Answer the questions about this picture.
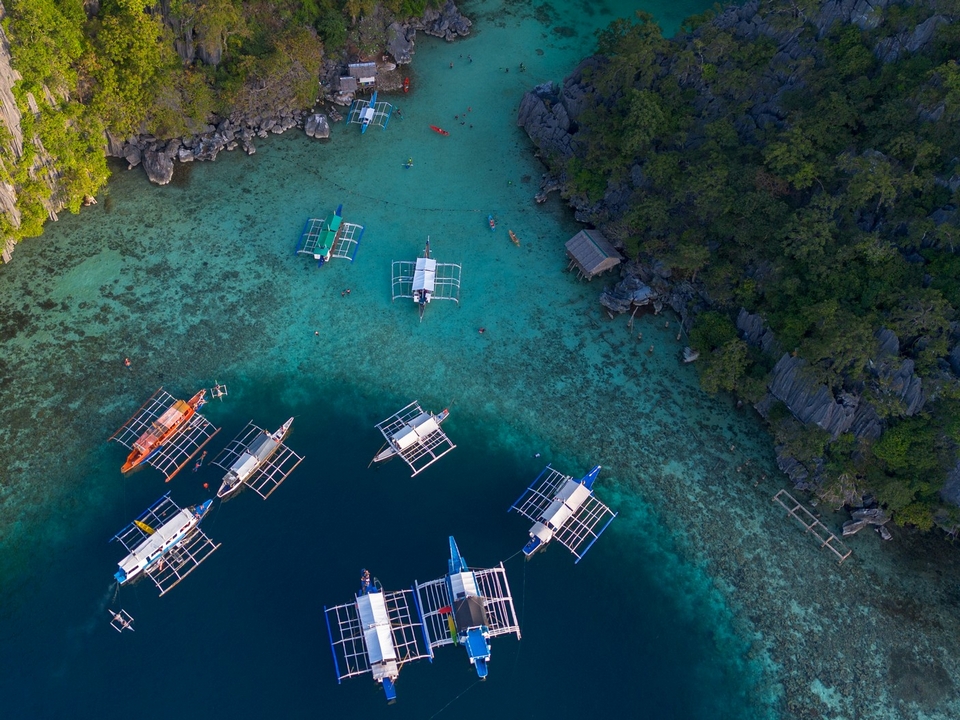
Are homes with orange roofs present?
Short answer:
No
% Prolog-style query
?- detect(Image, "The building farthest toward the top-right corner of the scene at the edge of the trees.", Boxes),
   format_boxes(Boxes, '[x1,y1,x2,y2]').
[561,228,621,285]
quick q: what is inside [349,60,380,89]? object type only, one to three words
shed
